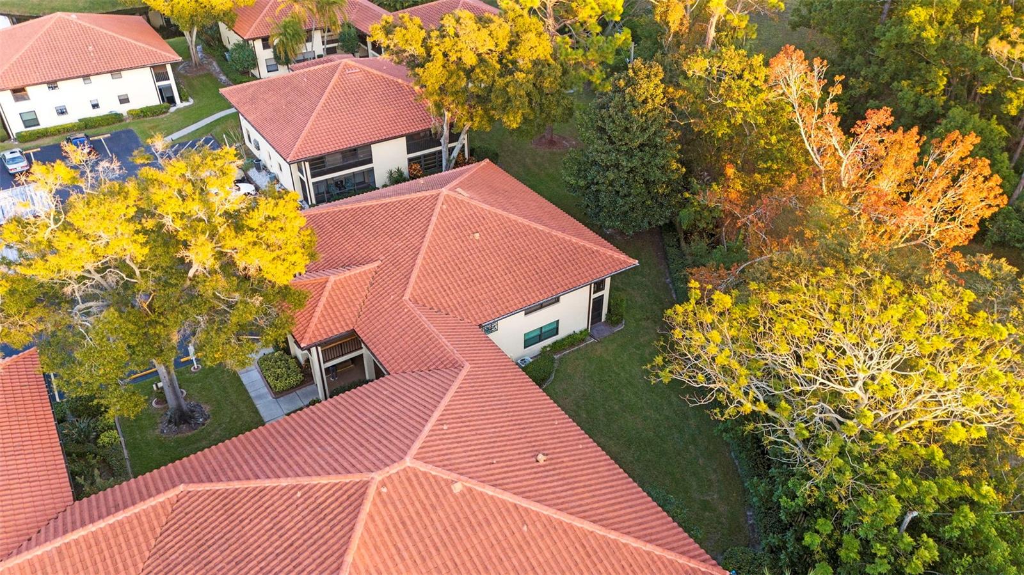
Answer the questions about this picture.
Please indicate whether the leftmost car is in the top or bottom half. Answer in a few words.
top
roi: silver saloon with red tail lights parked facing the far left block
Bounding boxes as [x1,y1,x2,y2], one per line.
[0,148,26,170]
